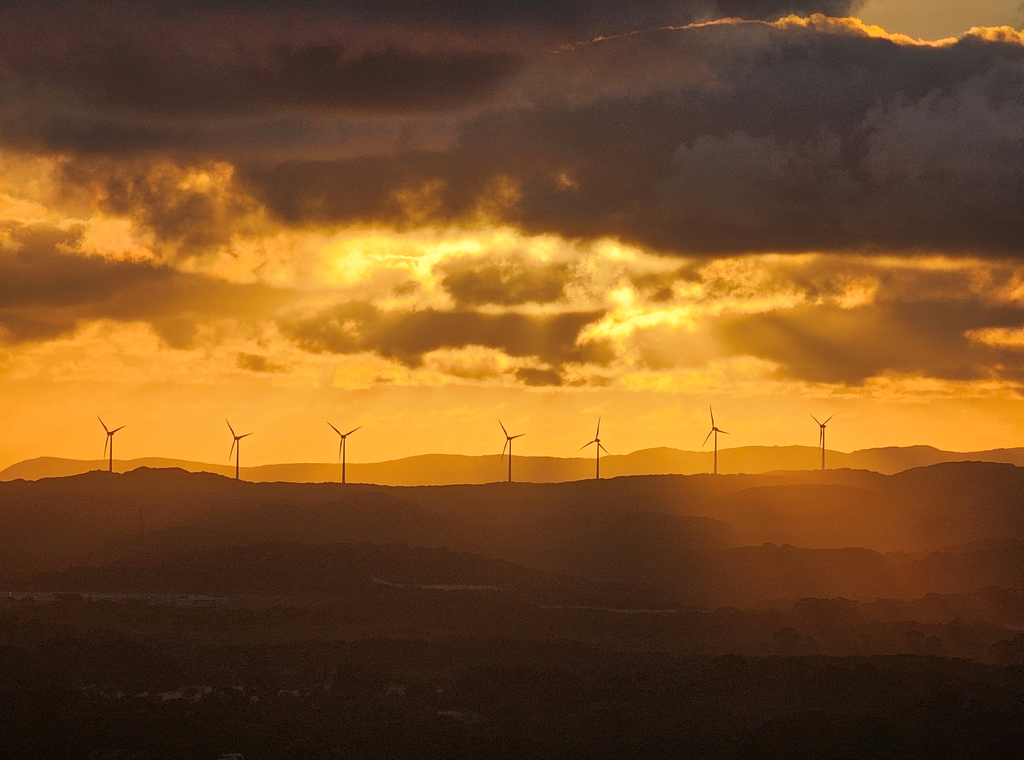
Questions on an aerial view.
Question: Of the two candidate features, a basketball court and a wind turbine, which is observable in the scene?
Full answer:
There is a wind turbine in the scene.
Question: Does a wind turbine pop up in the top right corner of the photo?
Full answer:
No, looking in the top right corner of the photo, there is no wind turbine.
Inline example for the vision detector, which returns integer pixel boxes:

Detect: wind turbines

[225,419,252,480]
[810,414,831,468]
[98,417,125,472]
[327,421,361,484]
[702,406,730,473]
[581,420,609,478]
[498,420,524,482]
